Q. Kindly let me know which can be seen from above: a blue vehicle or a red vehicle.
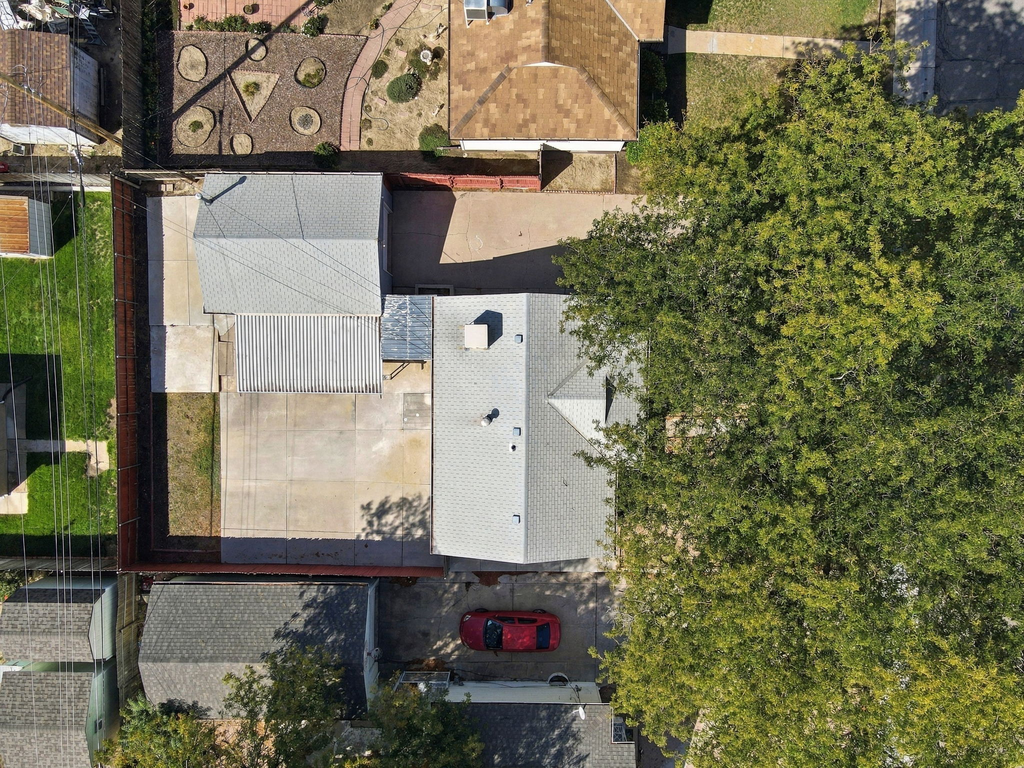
red vehicle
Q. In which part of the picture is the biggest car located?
bottom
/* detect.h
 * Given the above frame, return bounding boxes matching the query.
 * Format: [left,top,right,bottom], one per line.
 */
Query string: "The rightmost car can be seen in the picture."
[459,608,560,658]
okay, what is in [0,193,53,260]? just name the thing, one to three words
shed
